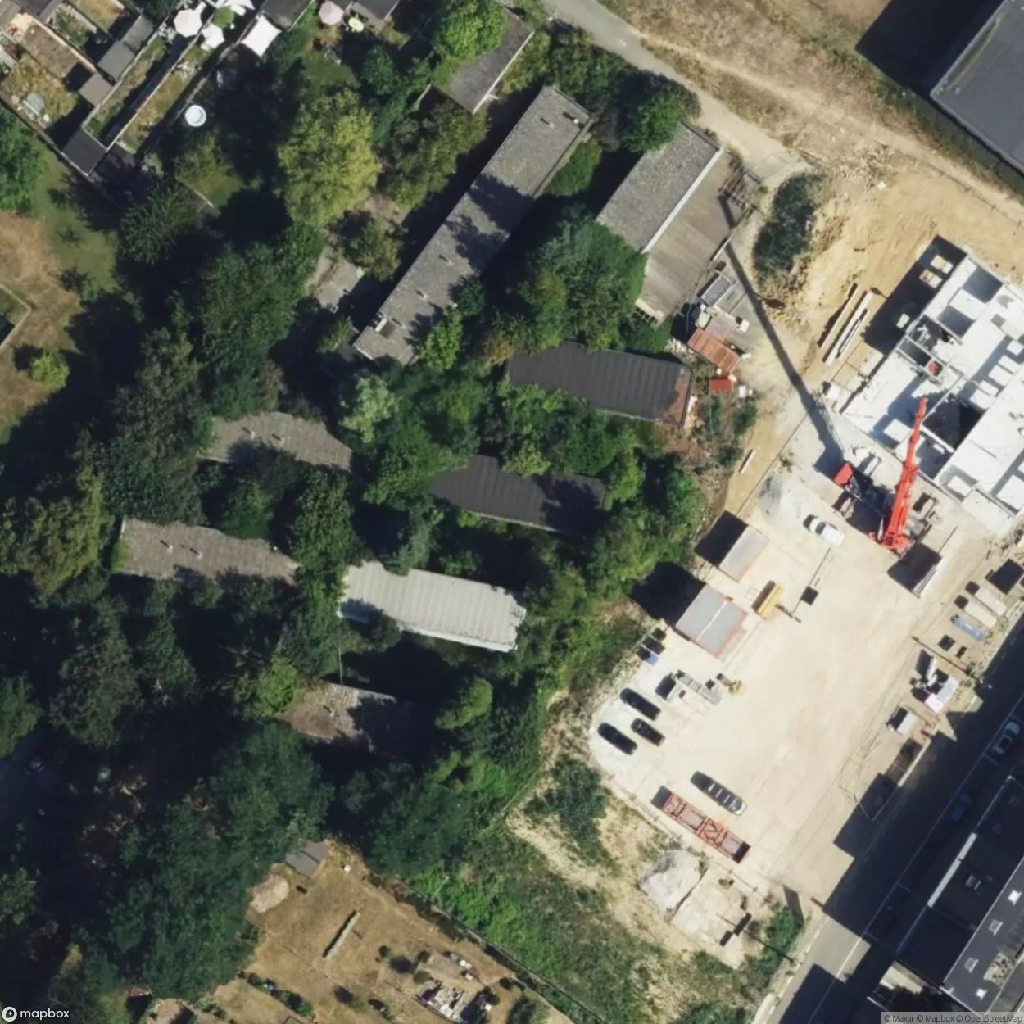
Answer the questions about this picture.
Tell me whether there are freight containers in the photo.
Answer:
Yes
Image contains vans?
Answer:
Yes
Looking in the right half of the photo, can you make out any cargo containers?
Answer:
Yes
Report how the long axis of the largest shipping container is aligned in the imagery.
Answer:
at an angle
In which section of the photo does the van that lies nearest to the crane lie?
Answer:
right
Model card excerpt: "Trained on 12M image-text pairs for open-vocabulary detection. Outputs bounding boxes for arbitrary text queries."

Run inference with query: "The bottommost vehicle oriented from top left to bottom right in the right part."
[698,776,745,813]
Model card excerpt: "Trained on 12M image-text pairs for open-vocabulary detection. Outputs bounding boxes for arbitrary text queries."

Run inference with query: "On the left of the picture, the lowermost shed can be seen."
[286,839,329,875]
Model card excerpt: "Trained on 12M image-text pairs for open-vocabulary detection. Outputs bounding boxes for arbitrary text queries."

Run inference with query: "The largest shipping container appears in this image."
[686,330,742,379]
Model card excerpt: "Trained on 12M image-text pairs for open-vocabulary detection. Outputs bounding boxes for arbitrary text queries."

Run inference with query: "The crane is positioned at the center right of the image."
[834,330,944,559]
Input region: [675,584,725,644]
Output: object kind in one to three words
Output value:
building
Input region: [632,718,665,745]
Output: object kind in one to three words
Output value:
car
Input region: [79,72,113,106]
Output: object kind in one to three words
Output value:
shed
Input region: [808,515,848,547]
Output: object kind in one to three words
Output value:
van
